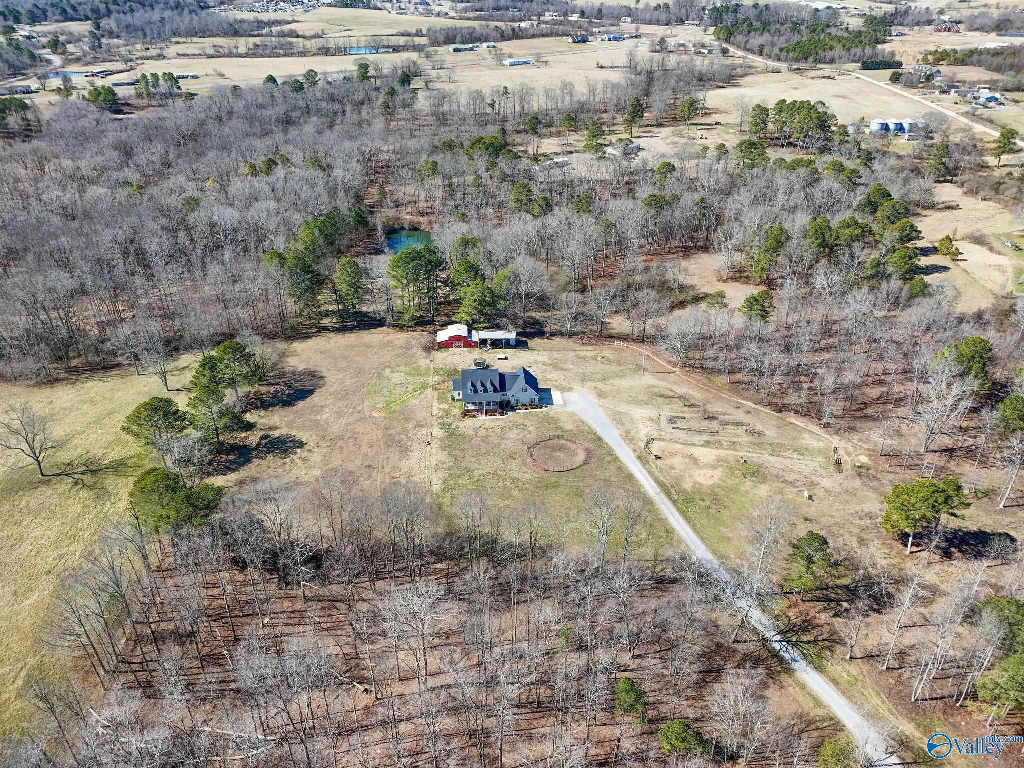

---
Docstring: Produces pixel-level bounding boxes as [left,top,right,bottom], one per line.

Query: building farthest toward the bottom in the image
[453,363,539,416]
